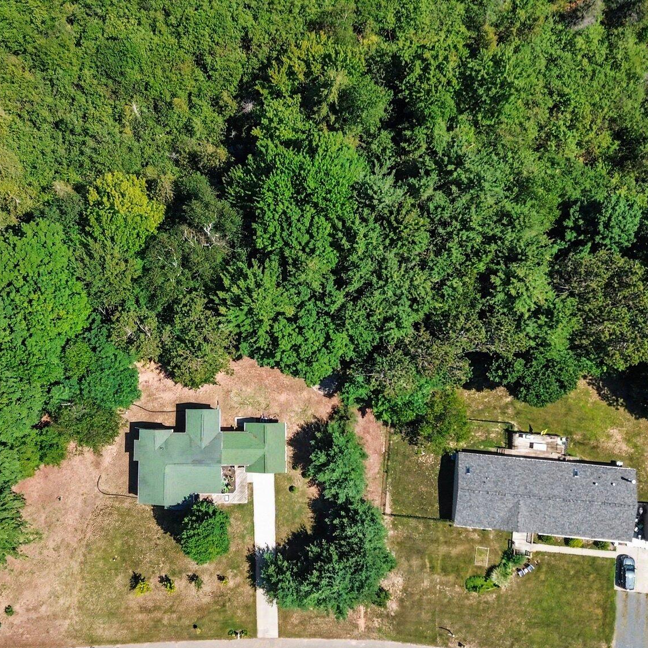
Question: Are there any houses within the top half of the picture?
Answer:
No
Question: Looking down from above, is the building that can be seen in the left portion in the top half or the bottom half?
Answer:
bottom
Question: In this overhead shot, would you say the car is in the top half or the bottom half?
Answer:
bottom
